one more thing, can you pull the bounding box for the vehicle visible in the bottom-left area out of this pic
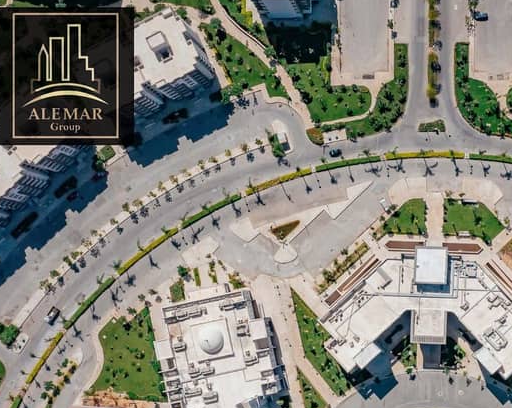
[47,307,61,322]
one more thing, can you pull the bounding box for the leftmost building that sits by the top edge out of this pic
[70,16,212,135]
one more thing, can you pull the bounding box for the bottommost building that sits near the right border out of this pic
[321,247,512,379]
